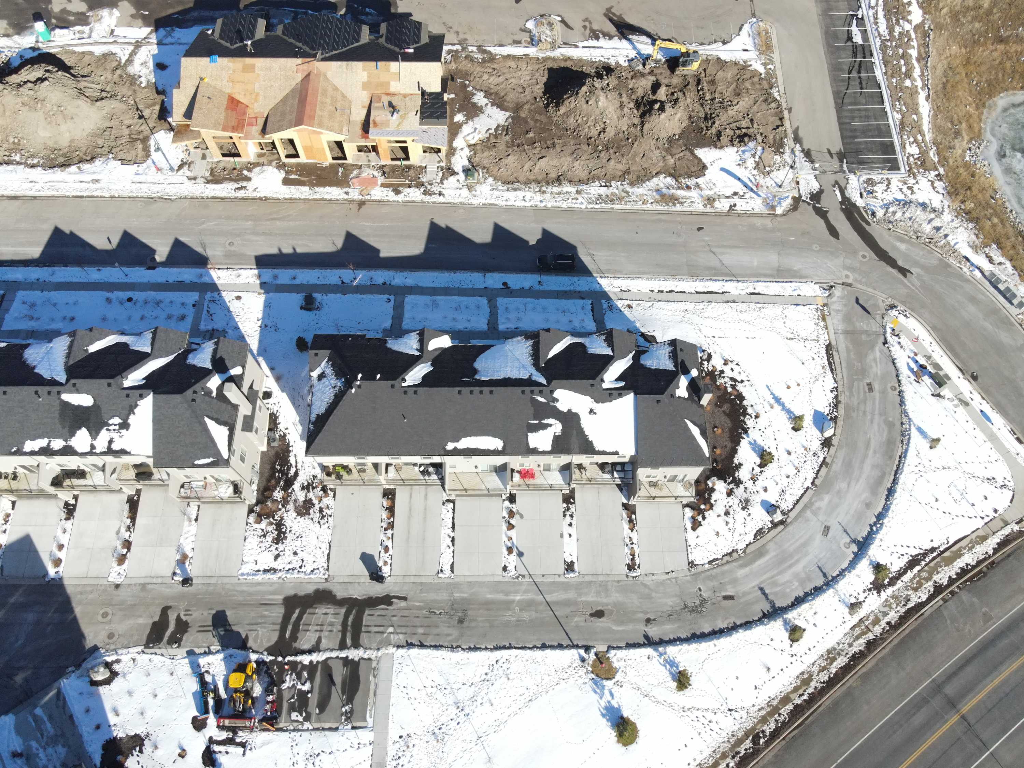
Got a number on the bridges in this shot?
0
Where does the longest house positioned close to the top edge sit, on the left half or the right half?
left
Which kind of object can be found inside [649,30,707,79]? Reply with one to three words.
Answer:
work vehicle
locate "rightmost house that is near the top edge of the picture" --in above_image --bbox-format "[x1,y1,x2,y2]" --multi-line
[171,13,450,162]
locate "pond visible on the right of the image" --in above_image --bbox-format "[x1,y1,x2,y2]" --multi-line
[980,93,1024,218]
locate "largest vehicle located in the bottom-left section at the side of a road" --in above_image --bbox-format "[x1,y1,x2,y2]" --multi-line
[219,656,259,723]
